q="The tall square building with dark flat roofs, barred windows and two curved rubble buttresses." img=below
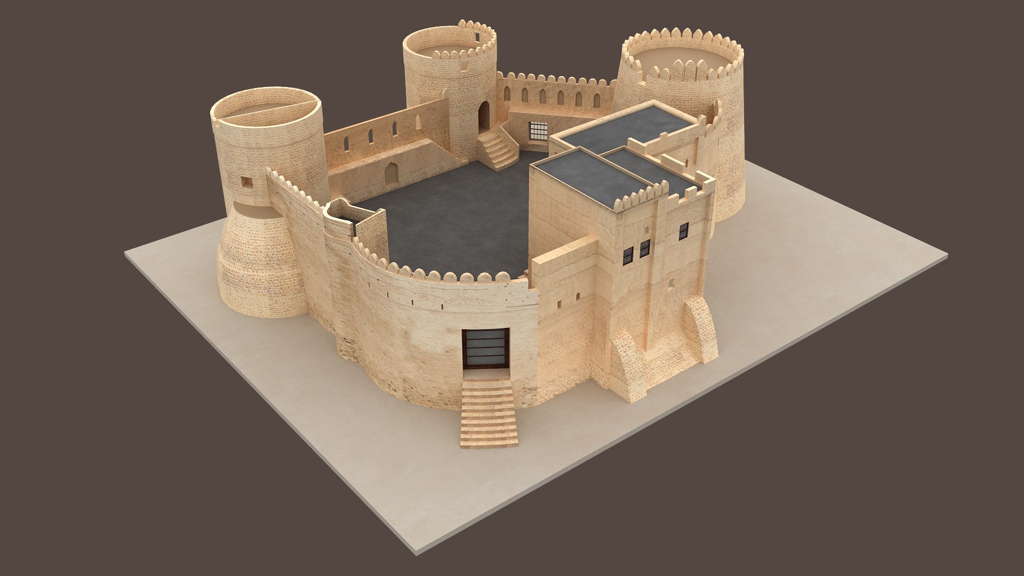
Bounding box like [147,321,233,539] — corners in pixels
[528,138,718,403]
